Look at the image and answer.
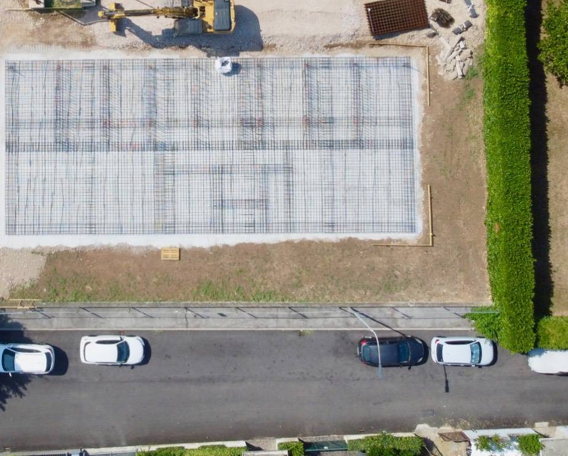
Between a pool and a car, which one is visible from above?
car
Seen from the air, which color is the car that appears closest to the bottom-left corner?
white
